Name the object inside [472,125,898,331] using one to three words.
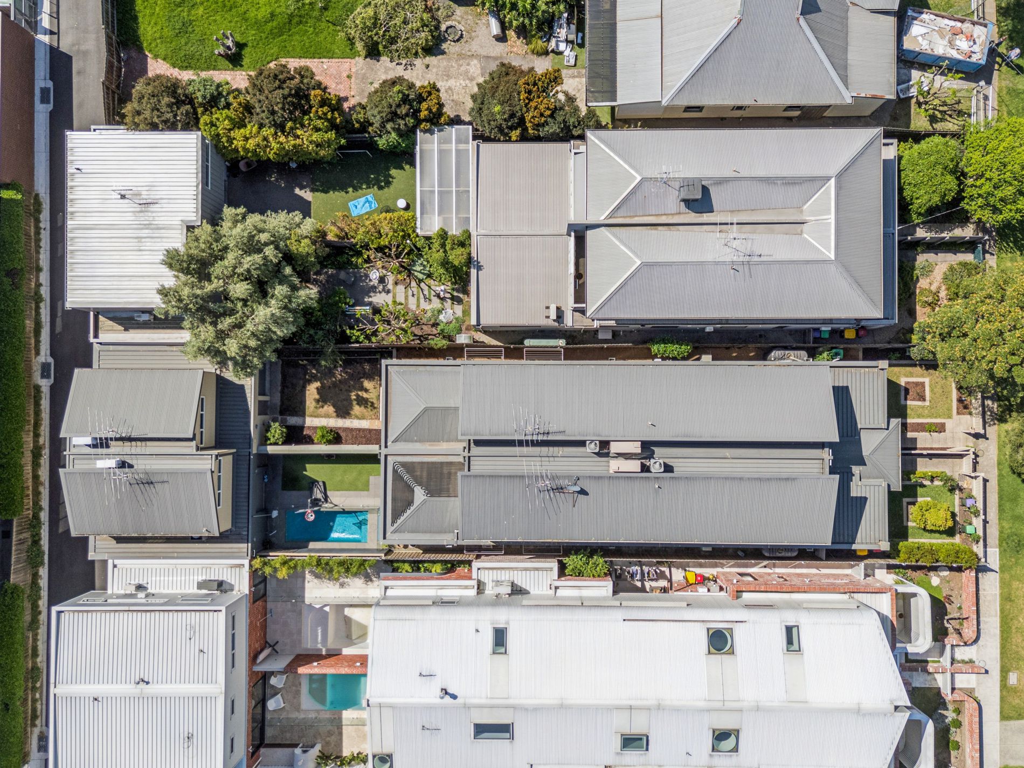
house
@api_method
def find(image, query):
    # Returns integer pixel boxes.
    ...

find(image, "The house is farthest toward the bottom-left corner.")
[50,553,267,768]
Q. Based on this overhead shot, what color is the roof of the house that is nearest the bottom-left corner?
white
